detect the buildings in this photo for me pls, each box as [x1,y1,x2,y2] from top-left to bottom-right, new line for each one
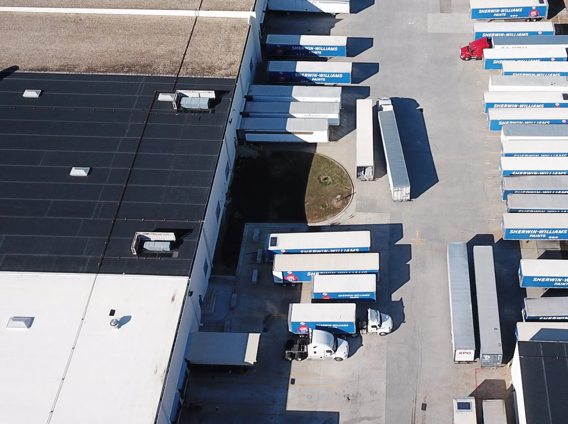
[0,0,268,424]
[513,341,568,424]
